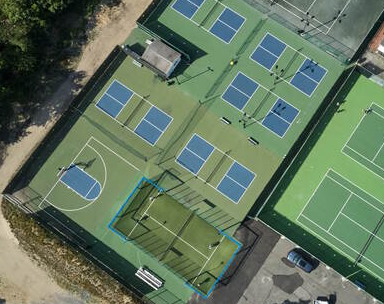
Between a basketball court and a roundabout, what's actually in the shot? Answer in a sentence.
Of the two, only a basketball court appears.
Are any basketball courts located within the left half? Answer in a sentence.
Yes, there is a basketball court within the left half.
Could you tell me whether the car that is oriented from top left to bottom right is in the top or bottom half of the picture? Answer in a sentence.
Seen from above, the car that is oriented from top left to bottom right lies in the bottom half of the view.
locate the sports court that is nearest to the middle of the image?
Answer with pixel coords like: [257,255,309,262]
[175,134,257,204]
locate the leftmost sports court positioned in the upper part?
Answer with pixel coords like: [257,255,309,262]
[95,79,173,146]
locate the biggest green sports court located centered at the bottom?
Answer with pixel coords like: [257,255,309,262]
[107,176,242,299]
